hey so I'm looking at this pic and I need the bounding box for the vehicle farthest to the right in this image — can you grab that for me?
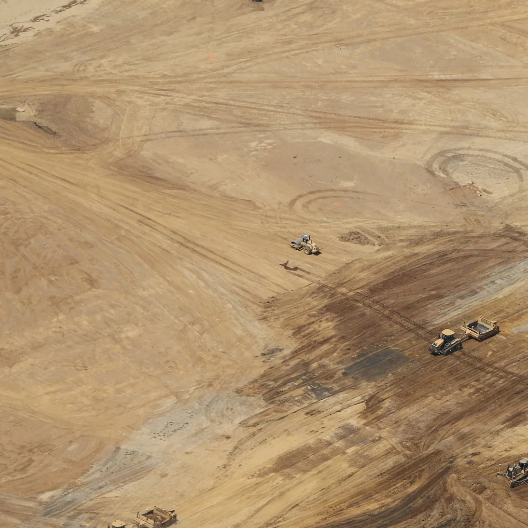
[497,457,528,489]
